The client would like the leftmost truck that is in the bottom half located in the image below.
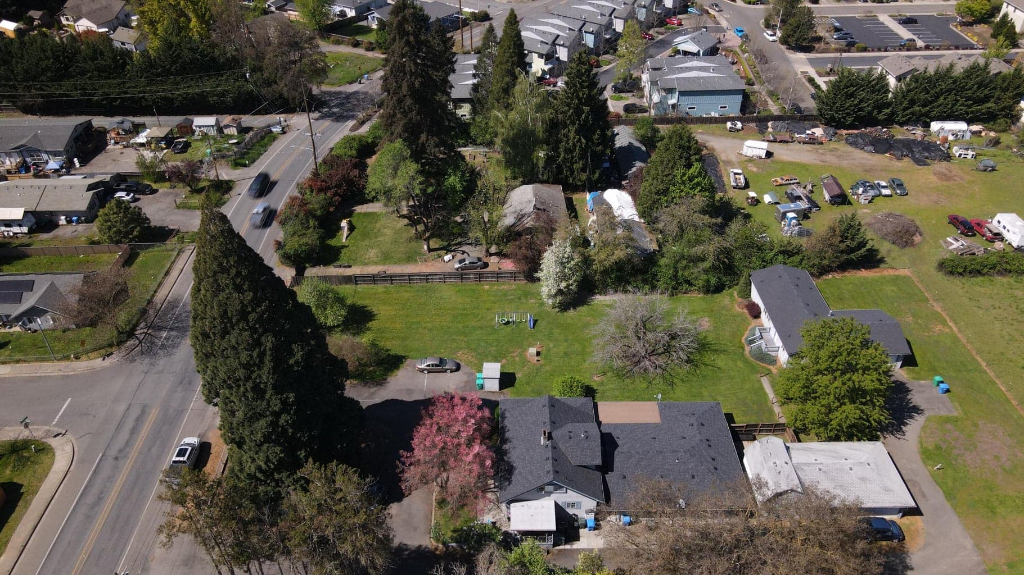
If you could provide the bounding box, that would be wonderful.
[163,436,200,481]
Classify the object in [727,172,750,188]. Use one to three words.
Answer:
vehicle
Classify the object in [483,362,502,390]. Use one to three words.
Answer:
shed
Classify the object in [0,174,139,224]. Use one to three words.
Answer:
house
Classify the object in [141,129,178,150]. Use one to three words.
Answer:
gazebo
